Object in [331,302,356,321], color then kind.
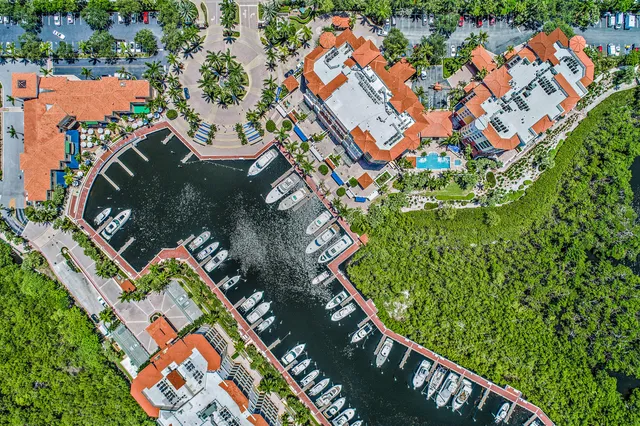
white boat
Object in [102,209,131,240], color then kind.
white boat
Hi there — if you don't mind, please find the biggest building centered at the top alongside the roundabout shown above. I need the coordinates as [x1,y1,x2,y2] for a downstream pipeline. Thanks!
[297,29,429,164]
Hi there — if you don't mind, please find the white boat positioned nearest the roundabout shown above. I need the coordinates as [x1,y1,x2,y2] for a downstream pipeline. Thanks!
[247,148,279,176]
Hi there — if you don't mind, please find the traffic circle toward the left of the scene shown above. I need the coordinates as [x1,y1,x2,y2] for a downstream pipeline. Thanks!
[178,35,270,127]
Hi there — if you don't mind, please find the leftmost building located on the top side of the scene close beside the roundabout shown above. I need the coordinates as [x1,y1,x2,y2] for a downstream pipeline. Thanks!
[12,73,152,201]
